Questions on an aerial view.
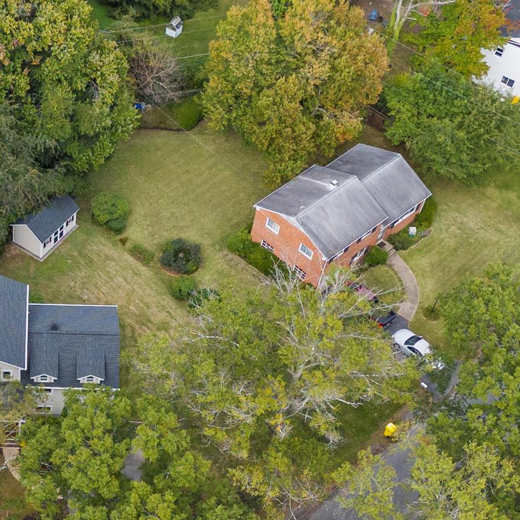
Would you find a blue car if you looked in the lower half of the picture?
No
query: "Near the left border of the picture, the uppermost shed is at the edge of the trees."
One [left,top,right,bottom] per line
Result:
[9,191,83,264]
